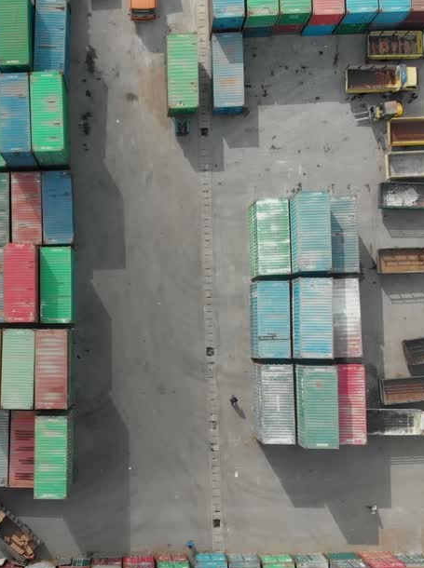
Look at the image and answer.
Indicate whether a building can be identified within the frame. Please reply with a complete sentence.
No, the frame has no building in it.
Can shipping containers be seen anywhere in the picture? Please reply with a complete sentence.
Yes, a shipping container appears in the view.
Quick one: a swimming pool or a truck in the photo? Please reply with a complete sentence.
Of the two, only a truck appears.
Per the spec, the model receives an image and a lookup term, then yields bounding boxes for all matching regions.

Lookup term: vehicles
[384,116,424,149]
[127,0,160,28]
[397,335,424,368]
[366,30,424,64]
[344,63,418,97]
[376,374,424,405]
[382,149,424,182]
[349,95,402,120]
[0,496,44,566]
[366,409,424,436]
[377,182,424,212]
